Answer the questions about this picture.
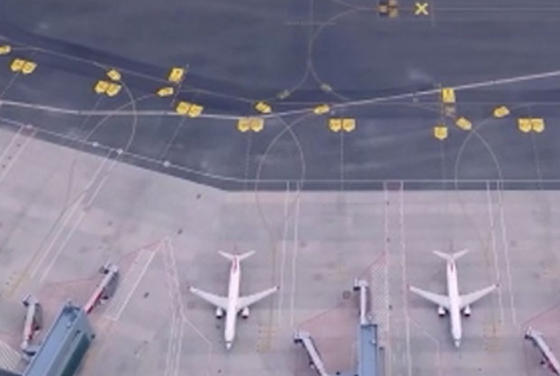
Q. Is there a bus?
No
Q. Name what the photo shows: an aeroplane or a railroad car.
aeroplane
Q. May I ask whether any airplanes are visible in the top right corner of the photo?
No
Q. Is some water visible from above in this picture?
No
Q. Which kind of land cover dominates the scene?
paved ground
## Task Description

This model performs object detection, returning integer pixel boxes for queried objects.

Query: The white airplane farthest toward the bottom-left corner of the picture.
[187,250,278,350]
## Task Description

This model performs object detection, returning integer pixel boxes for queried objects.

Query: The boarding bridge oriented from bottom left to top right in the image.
[80,263,118,320]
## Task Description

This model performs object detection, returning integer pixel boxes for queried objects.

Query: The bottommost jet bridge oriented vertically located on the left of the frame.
[20,299,44,356]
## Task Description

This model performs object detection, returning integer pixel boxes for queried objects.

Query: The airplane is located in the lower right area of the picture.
[408,247,499,348]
